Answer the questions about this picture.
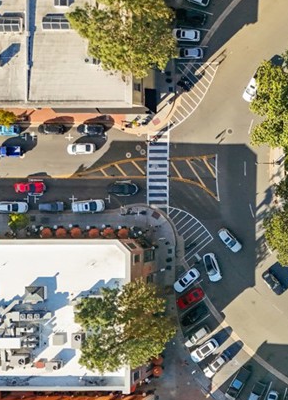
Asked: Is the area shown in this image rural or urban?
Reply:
urban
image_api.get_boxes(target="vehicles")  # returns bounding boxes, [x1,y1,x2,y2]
[201,347,236,378]
[245,378,270,400]
[178,48,205,60]
[68,141,97,155]
[79,122,107,136]
[187,0,212,8]
[0,200,30,214]
[174,28,202,42]
[202,251,224,283]
[261,269,287,296]
[266,389,280,400]
[71,198,106,212]
[38,200,66,214]
[188,336,221,363]
[242,71,262,101]
[177,8,209,26]
[176,288,206,309]
[39,121,68,136]
[15,180,48,194]
[173,267,202,292]
[182,322,214,350]
[216,226,245,254]
[222,366,253,400]
[0,144,25,158]
[180,301,212,326]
